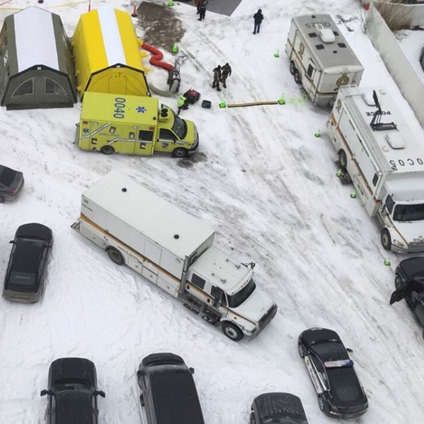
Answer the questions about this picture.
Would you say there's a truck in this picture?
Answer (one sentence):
Yes, there's a truck here.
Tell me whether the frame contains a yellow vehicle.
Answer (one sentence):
Yes, there's a yellow vehicle here.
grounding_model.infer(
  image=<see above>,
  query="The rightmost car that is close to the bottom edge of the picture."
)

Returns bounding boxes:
[302,325,369,422]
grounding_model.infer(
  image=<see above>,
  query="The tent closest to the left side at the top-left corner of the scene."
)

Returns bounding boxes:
[0,2,77,112]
